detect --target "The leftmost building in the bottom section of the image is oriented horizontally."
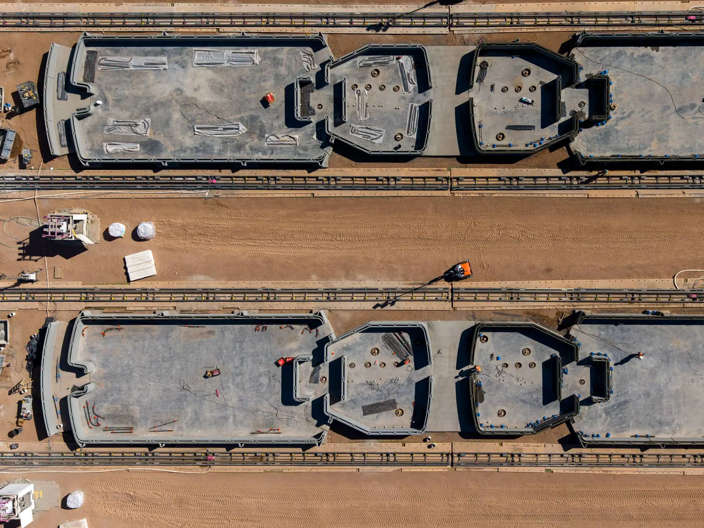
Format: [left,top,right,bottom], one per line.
[40,311,434,445]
